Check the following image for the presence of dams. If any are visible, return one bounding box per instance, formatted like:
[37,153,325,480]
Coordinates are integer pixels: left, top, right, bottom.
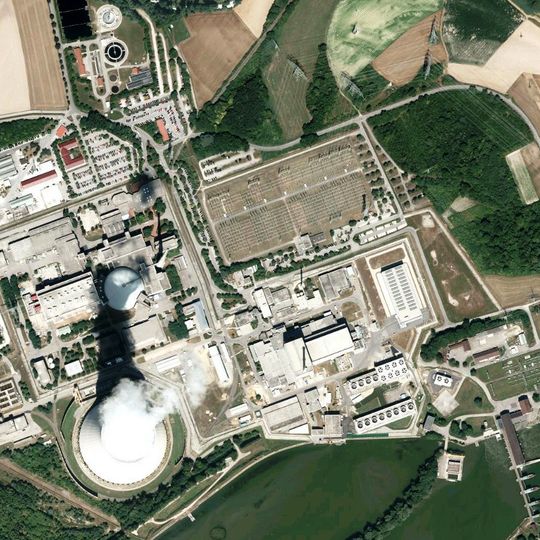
[513,464,540,531]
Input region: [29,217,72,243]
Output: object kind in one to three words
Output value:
building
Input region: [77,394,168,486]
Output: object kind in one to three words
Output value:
cooling tower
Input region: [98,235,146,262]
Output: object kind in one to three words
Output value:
building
